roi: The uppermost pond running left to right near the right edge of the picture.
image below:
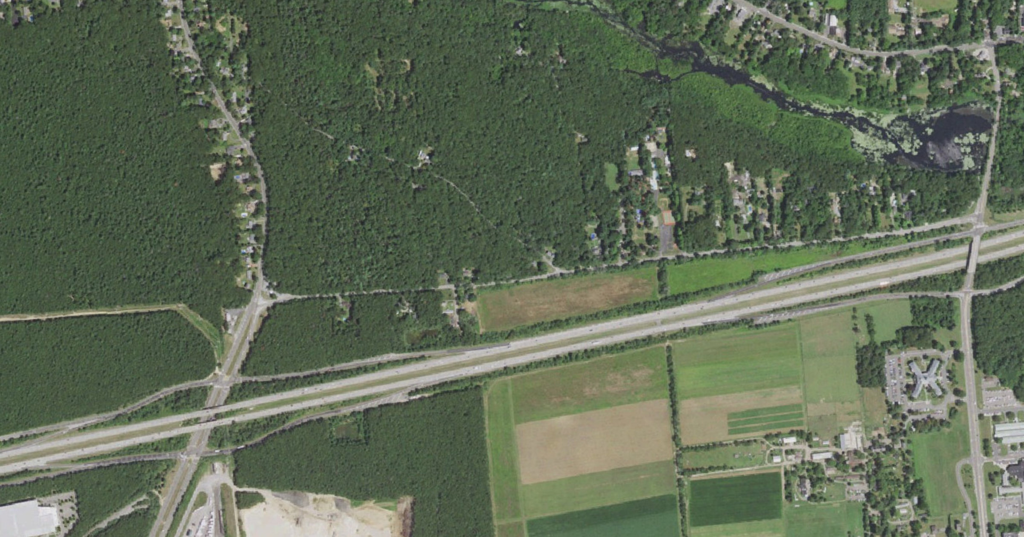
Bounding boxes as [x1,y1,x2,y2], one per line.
[838,101,994,172]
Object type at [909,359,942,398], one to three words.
building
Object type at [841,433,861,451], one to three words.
barn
